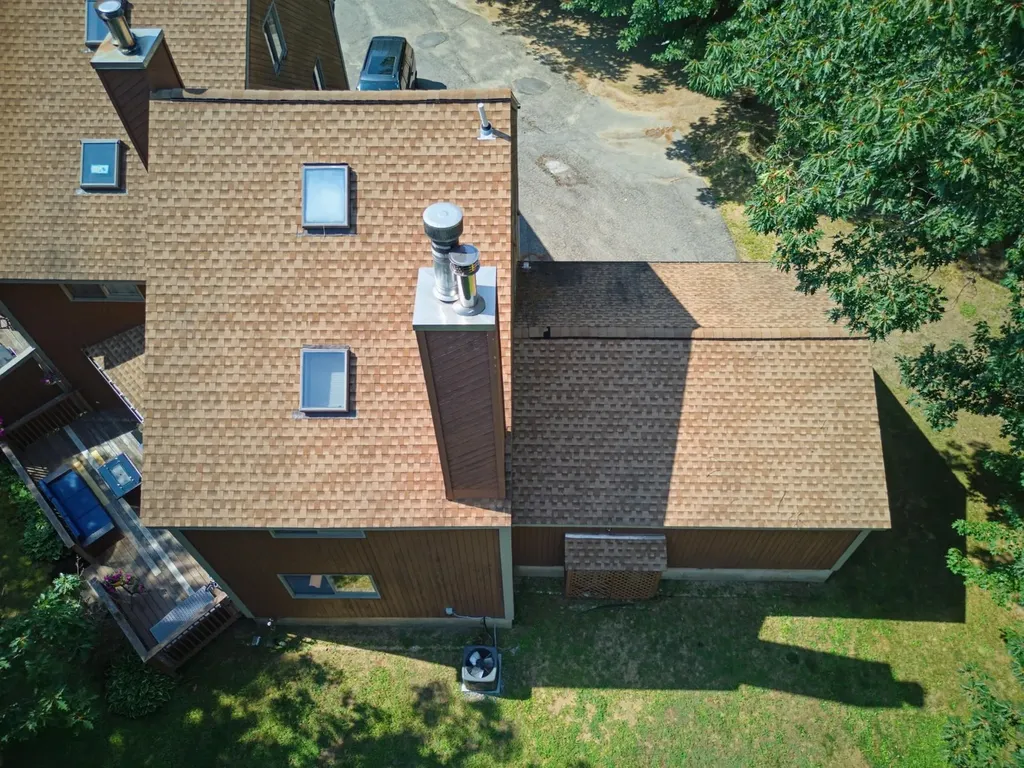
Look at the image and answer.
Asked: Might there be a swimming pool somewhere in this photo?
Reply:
No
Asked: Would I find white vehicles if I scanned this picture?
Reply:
No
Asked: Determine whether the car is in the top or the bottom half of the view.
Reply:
top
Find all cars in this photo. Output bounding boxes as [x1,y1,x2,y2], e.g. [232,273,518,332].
[360,39,417,87]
